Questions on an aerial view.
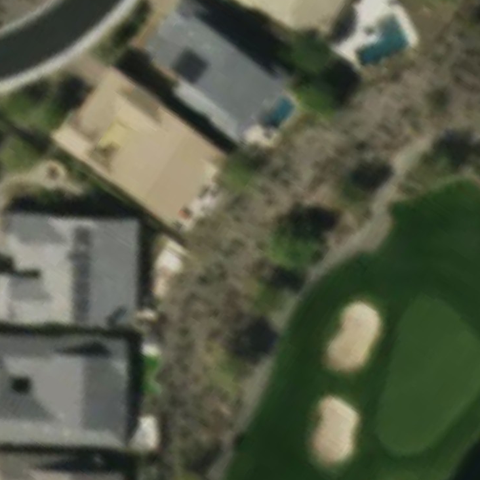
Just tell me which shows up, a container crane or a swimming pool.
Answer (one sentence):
It is a swimming pool that can be seen here.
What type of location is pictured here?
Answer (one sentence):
It's a residential area.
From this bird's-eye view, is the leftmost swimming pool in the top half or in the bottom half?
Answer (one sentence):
The leftmost swimming pool is in the top half of the image.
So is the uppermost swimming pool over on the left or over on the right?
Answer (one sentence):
You can find the uppermost swimming pool on the right side of the picture.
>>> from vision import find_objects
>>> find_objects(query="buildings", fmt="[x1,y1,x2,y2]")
[0,334,128,446]
[146,0,288,141]
[52,68,227,228]
[0,213,138,328]
[244,0,343,35]
[0,451,124,480]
